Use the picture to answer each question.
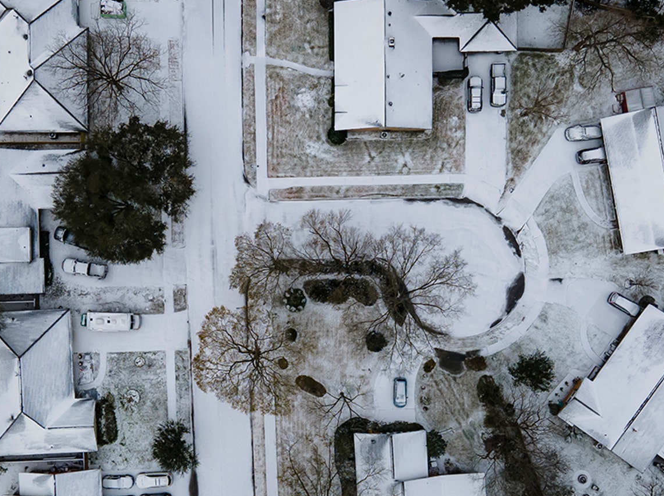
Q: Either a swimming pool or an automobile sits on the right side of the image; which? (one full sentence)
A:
What appears on the right side of the image is an automobile.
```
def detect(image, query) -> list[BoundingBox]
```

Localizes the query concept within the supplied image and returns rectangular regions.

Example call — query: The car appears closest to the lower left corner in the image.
[102,475,135,492]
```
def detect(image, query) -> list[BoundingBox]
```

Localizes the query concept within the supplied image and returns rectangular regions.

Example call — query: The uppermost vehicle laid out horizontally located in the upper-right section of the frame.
[566,124,601,140]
